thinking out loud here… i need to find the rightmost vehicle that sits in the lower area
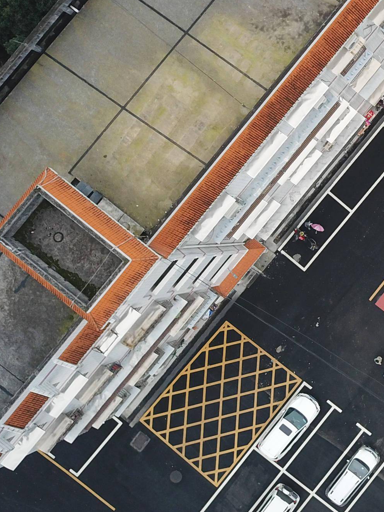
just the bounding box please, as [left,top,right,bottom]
[323,443,381,510]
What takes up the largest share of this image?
buildings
